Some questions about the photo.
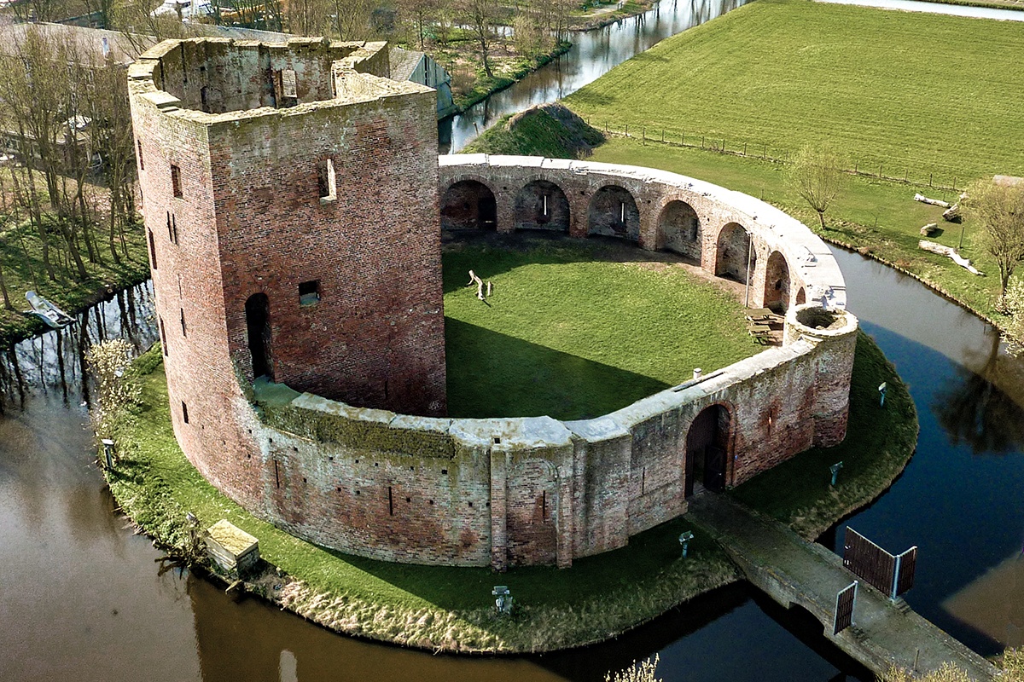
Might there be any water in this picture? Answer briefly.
Yes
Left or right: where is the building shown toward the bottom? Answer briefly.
left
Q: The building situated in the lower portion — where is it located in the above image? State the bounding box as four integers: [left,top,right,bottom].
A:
[199,508,260,567]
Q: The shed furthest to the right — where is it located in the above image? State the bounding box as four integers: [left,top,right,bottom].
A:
[394,43,452,116]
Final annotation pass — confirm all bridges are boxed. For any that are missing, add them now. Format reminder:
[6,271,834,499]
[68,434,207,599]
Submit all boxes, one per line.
[684,483,1022,682]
